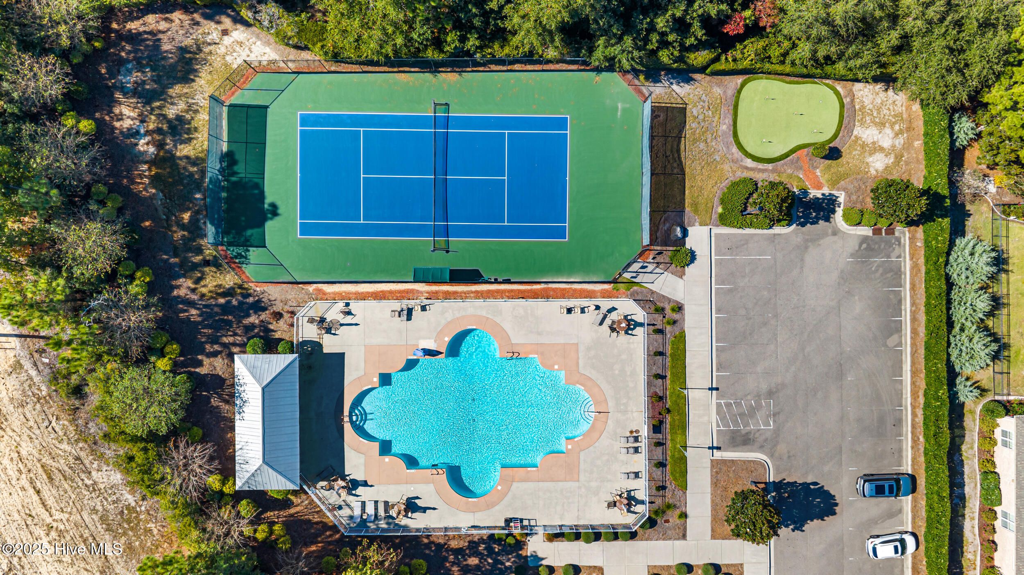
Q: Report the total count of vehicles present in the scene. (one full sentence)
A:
The count of vehicles comes to 2.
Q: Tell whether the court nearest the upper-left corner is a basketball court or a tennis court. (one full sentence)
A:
It turns out the court nearest the upper-left corner is a tennis court.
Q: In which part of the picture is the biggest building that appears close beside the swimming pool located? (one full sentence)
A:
Look in the bottom left portion of the view to spot the biggest building that appears close beside the swimming pool.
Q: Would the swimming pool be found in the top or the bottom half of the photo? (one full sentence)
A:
Seen from above, the swimming pool lies in the bottom half of the view.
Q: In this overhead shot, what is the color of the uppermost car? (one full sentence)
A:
The uppermost car is blue.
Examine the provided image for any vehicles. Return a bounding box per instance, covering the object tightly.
[865,530,918,558]
[857,473,915,501]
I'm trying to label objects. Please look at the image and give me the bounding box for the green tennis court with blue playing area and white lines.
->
[224,72,643,281]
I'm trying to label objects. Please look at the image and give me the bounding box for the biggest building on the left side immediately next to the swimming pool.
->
[234,353,310,491]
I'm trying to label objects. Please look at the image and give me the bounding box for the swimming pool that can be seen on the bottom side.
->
[335,314,609,513]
